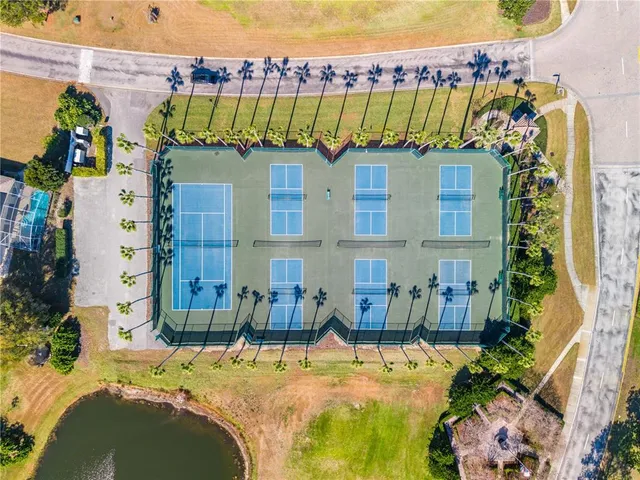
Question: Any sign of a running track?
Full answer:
No, I find no running track anywhere in the image.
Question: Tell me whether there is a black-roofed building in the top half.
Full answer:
No, the scene shows no black-roofed building in the top half.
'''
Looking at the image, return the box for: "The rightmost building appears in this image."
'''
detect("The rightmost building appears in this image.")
[506,112,541,148]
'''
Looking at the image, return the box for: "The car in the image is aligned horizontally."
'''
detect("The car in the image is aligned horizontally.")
[191,72,219,86]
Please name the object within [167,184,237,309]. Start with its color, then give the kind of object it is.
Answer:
blue tennis court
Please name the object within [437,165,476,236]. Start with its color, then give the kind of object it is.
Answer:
blue sports court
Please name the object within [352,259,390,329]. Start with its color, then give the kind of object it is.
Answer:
blue sports court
